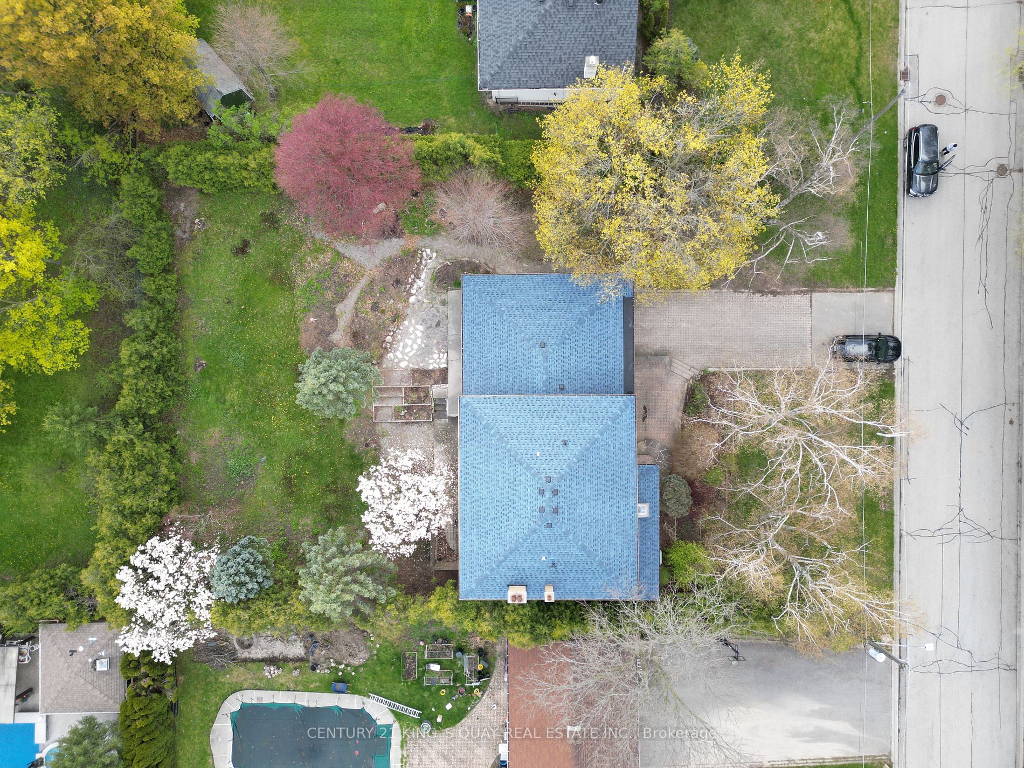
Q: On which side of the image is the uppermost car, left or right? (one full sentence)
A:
The uppermost car is on the right side of the image.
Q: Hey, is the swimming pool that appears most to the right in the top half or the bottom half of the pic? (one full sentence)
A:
Seen from above, the swimming pool that appears most to the right lies in the bottom half of the view.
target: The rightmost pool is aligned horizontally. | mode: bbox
[221,692,402,768]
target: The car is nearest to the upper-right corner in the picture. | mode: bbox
[901,119,955,194]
